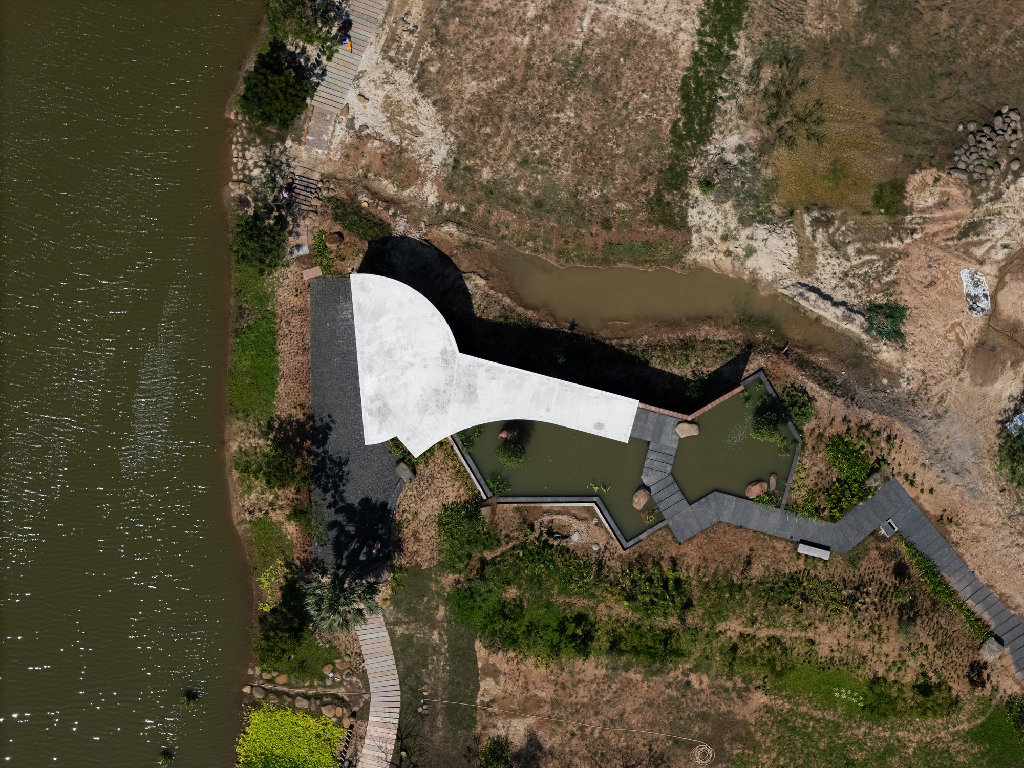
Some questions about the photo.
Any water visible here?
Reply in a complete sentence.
Yes, water can be seen from above here.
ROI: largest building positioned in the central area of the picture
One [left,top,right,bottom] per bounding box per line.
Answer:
[351,273,638,458]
